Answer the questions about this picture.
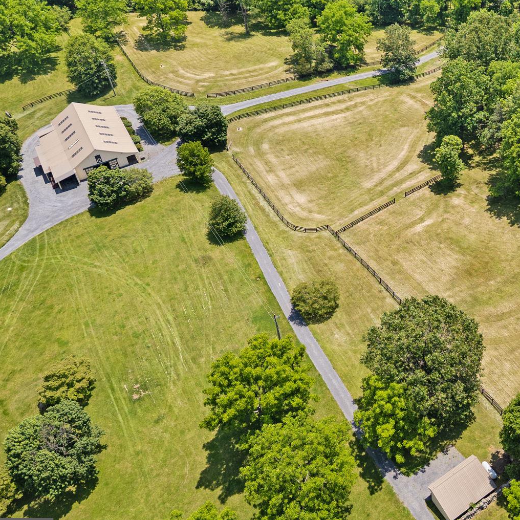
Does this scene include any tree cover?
Yes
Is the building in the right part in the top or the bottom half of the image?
bottom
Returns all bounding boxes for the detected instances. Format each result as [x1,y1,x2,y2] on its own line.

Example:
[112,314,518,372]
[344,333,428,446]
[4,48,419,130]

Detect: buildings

[429,454,496,520]
[36,101,140,192]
